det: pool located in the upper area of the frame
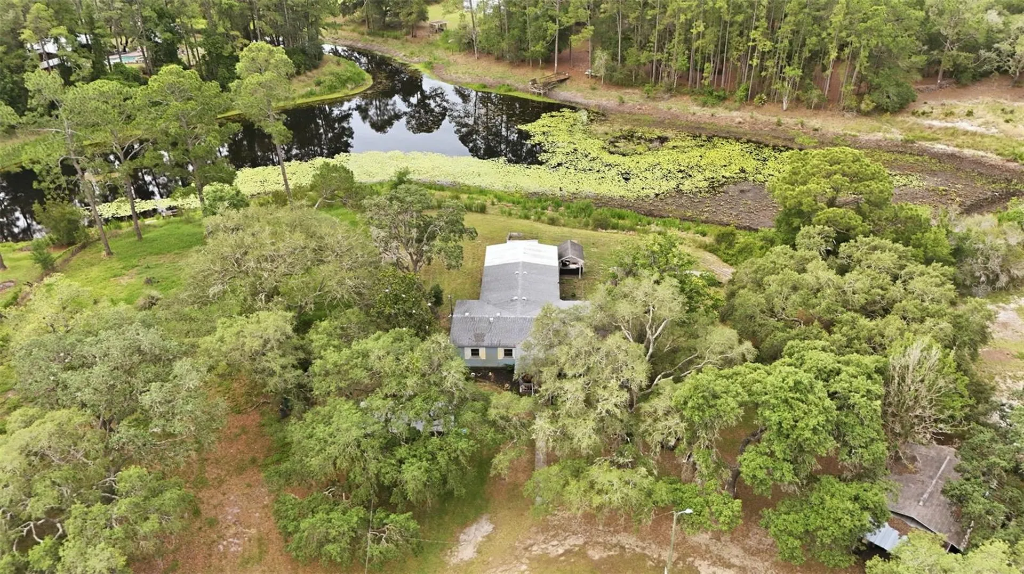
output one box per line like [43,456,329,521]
[105,49,150,67]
